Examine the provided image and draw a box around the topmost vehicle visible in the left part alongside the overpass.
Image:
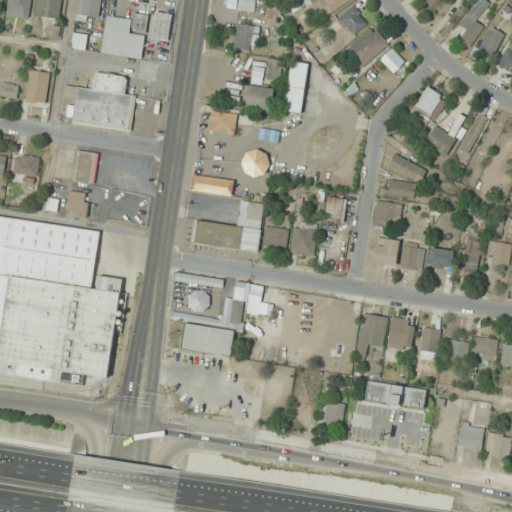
[124,430,165,444]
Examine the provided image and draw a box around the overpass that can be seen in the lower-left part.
[68,456,182,512]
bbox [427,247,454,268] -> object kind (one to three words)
house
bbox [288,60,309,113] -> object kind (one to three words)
shed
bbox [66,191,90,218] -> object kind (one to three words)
building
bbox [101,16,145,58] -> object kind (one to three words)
building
